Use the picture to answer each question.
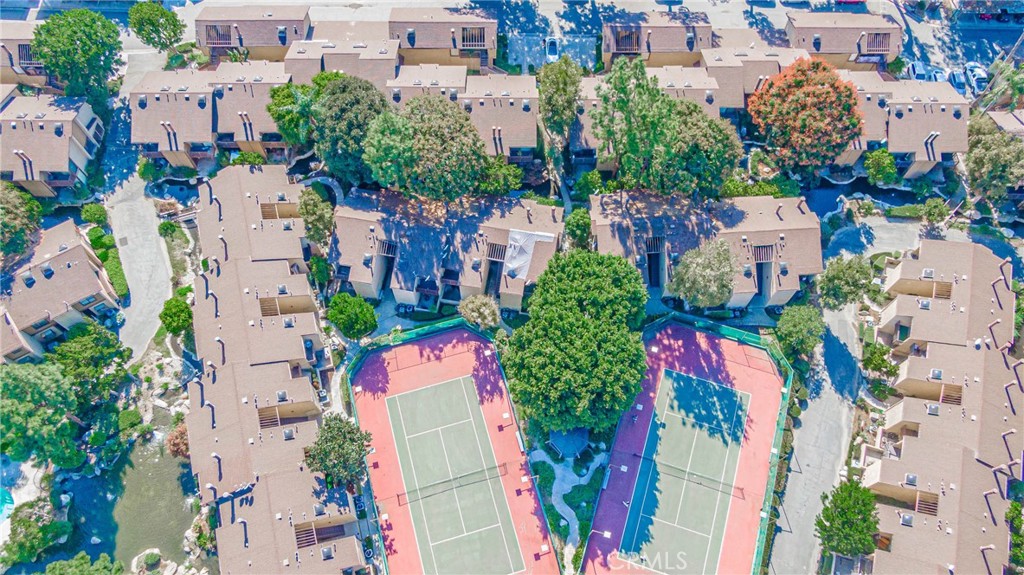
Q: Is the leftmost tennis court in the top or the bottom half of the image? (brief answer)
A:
bottom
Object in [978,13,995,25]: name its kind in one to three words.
vehicle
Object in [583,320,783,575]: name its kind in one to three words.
tennis court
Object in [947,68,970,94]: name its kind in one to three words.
car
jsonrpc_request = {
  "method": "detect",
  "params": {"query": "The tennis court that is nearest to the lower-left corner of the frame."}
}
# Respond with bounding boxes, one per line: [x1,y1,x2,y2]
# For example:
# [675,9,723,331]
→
[349,328,562,575]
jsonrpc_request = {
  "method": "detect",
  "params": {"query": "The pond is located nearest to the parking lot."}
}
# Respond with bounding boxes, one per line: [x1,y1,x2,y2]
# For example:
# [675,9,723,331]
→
[800,177,937,227]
